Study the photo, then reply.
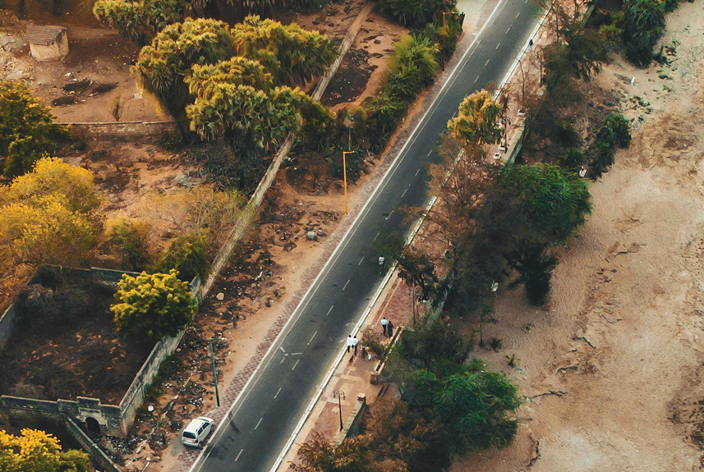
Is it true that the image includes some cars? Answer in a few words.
Yes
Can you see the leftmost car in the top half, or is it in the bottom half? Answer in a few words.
bottom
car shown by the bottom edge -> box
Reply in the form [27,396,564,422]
[179,417,214,452]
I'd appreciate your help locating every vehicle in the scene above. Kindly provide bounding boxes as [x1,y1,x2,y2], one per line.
[375,257,385,275]
[179,417,214,452]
